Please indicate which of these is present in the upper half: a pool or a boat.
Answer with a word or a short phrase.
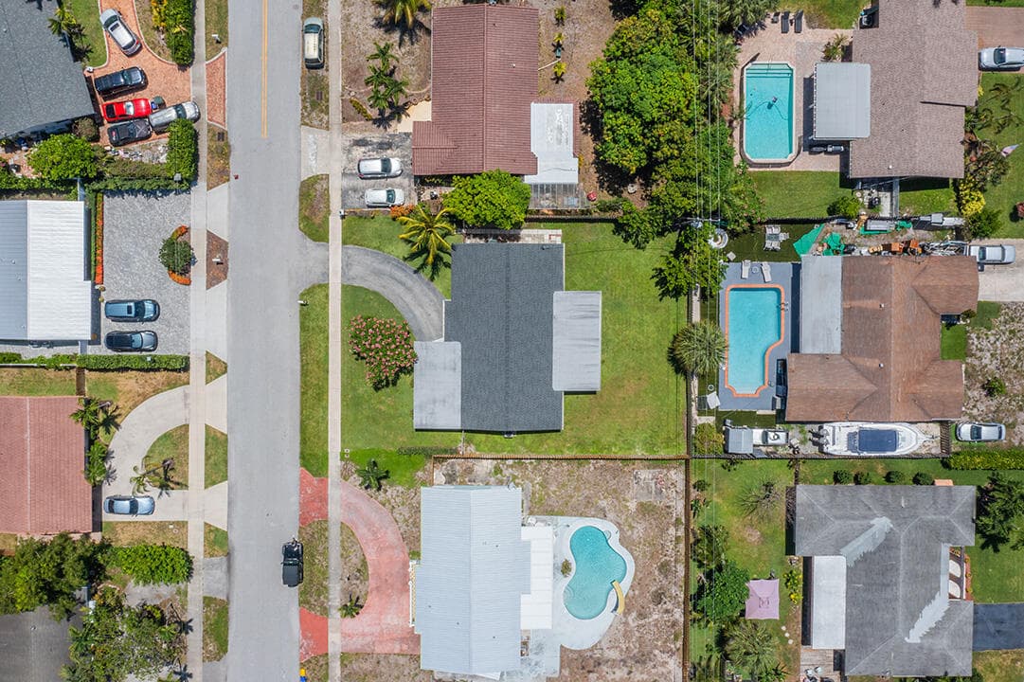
pool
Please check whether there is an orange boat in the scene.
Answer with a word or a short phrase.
No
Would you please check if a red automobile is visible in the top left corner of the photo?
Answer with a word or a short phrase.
Yes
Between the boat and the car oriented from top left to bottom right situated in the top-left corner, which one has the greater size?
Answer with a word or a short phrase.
the boat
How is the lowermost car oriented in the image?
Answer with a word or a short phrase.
vertically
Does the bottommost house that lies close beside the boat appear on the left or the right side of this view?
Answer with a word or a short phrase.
right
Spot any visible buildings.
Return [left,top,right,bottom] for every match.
[411,1,590,212]
[806,0,980,213]
[783,255,980,424]
[0,0,102,144]
[415,472,553,679]
[720,426,753,454]
[0,397,102,540]
[413,242,602,438]
[790,486,976,677]
[0,182,93,353]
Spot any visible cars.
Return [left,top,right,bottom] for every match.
[147,100,203,132]
[357,155,403,180]
[978,46,1024,72]
[967,242,1017,265]
[104,494,156,518]
[106,119,155,147]
[105,298,160,323]
[104,329,158,353]
[100,8,144,58]
[953,420,1007,444]
[281,540,305,588]
[300,18,326,70]
[364,185,406,208]
[102,97,154,124]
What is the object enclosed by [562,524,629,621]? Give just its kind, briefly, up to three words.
swimming pool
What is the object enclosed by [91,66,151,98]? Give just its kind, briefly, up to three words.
truck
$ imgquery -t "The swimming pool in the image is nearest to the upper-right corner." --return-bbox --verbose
[742,57,796,162]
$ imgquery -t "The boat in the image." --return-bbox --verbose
[815,423,931,455]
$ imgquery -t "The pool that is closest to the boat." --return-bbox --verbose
[727,286,788,395]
